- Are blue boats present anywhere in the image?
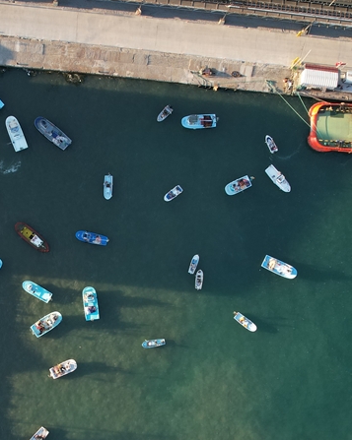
Yes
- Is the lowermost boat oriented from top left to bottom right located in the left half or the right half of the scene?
right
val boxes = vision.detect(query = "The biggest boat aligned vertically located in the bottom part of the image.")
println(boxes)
[83,286,98,322]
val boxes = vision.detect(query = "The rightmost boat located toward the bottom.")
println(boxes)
[260,254,297,278]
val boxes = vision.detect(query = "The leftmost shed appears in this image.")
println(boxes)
[297,62,338,94]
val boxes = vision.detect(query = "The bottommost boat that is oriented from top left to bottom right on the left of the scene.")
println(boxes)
[22,281,54,304]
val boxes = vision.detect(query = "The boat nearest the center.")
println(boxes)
[164,185,184,201]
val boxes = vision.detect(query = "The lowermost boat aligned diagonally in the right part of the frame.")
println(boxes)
[231,310,257,333]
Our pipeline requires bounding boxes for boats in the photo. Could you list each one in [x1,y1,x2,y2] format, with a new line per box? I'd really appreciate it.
[164,185,184,201]
[260,254,297,278]
[187,255,199,276]
[6,115,28,152]
[104,173,112,200]
[22,281,54,304]
[181,114,219,129]
[37,118,72,151]
[47,360,77,380]
[30,425,51,440]
[157,105,173,122]
[83,286,98,322]
[306,102,352,155]
[28,312,61,340]
[264,135,278,155]
[224,174,254,194]
[141,338,167,349]
[75,231,110,246]
[195,269,203,292]
[262,162,290,192]
[231,310,257,333]
[15,222,48,252]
